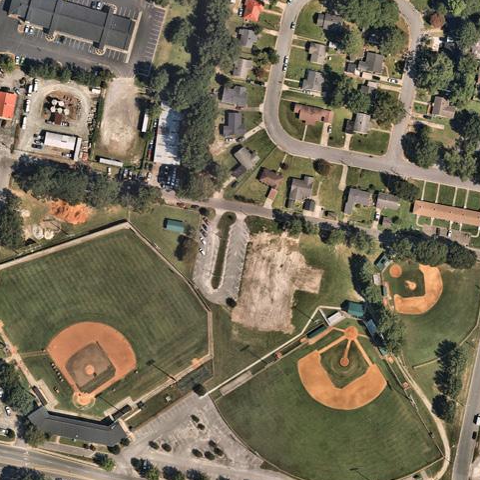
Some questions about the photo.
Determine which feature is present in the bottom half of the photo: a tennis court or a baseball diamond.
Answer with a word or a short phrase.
baseball diamond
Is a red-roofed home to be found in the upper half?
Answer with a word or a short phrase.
Yes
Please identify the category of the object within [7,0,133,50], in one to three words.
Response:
building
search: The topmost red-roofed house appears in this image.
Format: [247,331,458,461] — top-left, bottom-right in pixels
[240,0,264,22]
